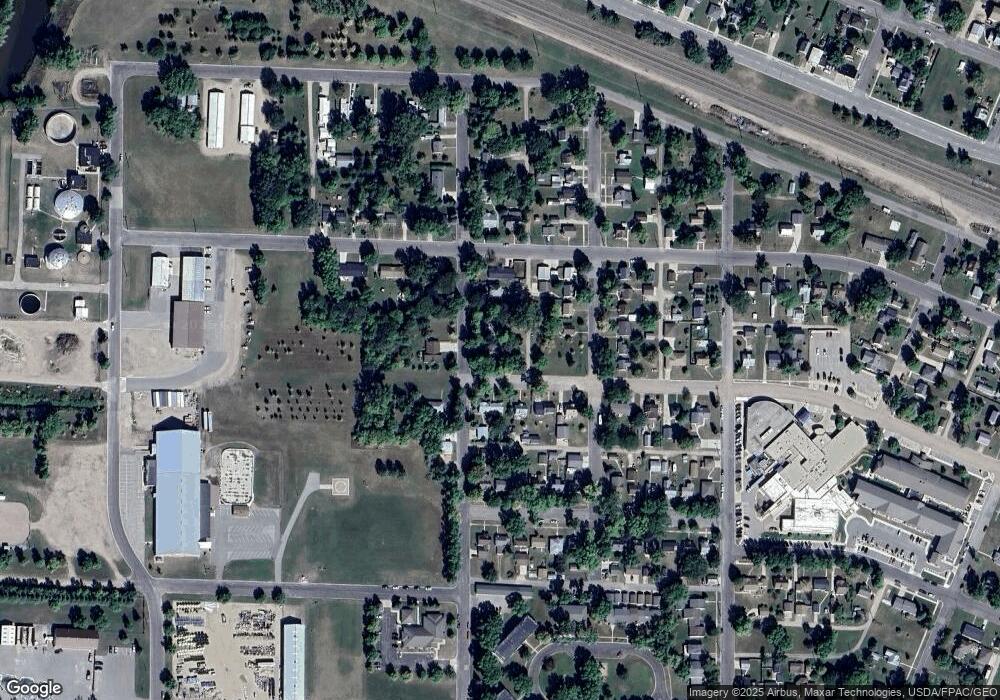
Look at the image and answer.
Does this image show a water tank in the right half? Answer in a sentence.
No, no water tank appears in the right half.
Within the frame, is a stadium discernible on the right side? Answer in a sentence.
No, there's no stadium to be seen on the right side.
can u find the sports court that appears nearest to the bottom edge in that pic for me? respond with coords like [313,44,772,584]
[222,448,254,504]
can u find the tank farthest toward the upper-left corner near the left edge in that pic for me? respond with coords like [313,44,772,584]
[45,111,75,142]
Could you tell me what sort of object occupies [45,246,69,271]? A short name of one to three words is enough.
water tank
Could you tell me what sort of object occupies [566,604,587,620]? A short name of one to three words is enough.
building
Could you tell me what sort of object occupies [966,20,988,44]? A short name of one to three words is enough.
house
